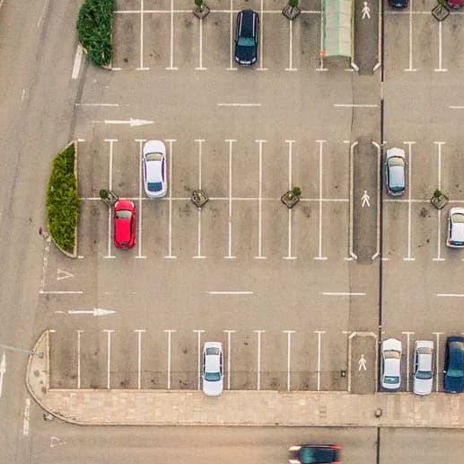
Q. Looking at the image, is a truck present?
No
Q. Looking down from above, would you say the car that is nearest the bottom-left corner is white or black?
white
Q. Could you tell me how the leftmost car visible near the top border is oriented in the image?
from top to bottom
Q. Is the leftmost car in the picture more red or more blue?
red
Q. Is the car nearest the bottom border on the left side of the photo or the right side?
right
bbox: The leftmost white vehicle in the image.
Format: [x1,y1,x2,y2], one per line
[141,141,167,198]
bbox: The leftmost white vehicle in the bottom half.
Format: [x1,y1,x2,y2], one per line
[200,342,223,395]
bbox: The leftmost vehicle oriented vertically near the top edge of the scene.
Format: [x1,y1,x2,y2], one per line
[234,10,258,66]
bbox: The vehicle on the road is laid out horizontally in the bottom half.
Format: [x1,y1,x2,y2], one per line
[292,443,338,464]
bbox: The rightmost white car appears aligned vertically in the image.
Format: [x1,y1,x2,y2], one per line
[446,208,464,249]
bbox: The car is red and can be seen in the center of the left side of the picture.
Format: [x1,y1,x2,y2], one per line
[112,202,136,248]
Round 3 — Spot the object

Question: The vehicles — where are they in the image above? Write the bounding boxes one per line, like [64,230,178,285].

[112,202,136,248]
[200,342,223,395]
[292,443,338,464]
[411,342,436,394]
[141,141,167,198]
[388,0,410,9]
[443,337,464,392]
[446,208,464,249]
[234,10,258,66]
[380,339,403,389]
[384,149,408,196]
